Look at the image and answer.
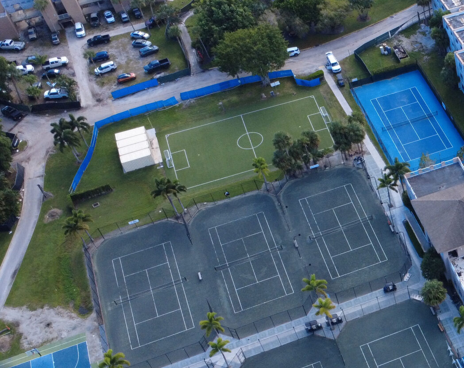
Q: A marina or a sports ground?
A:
sports ground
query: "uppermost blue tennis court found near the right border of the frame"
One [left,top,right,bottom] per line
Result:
[354,70,464,170]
